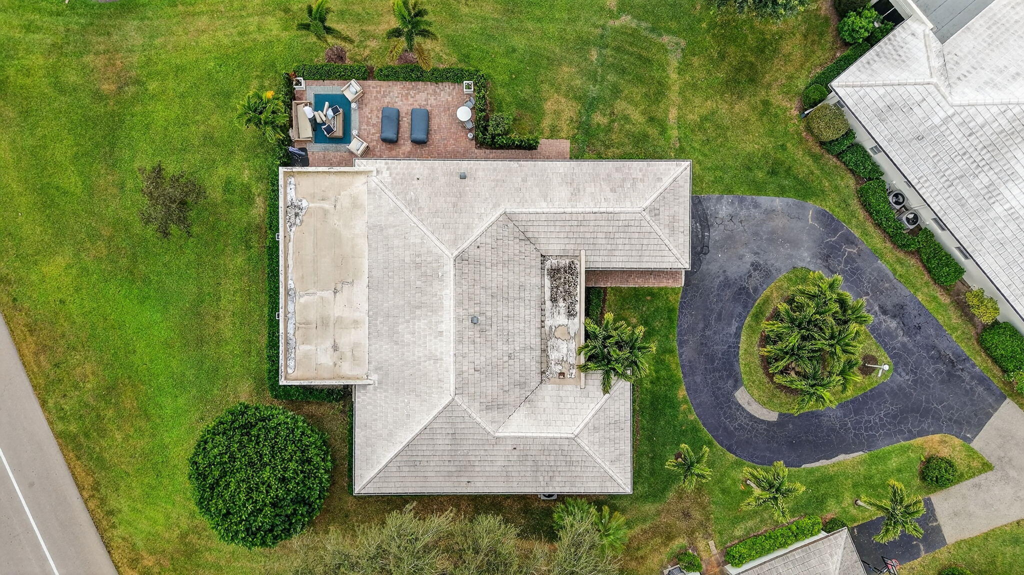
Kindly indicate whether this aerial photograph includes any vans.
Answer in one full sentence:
No, there's no van here.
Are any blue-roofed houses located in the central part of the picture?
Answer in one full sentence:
No, no blue-roofed house is visible in the central part of the picture.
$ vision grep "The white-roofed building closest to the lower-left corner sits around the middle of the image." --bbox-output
[279,159,692,495]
